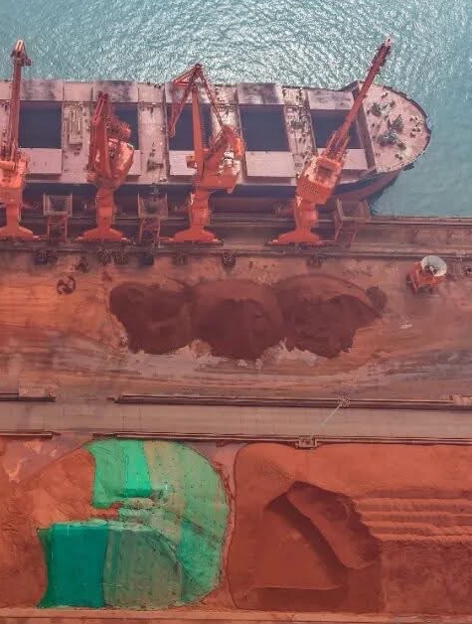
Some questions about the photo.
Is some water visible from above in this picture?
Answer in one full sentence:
Yes, there is water in the image.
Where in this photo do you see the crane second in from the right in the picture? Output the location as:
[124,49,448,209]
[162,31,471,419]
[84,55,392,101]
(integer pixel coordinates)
[165,63,251,243]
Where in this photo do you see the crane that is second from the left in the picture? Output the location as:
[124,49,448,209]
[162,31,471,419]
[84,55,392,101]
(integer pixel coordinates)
[76,88,137,241]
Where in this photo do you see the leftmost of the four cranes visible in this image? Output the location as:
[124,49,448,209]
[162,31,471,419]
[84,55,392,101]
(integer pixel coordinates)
[0,26,43,238]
